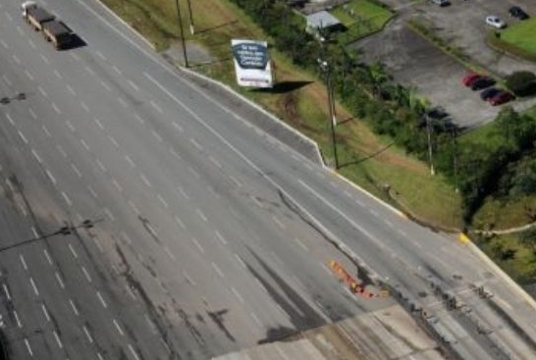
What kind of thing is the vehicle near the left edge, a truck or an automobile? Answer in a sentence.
It looks like the vehicle near the left edge is a truck.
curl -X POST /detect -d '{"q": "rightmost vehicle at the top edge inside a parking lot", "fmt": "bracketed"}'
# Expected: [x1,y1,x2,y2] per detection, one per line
[507,8,529,22]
